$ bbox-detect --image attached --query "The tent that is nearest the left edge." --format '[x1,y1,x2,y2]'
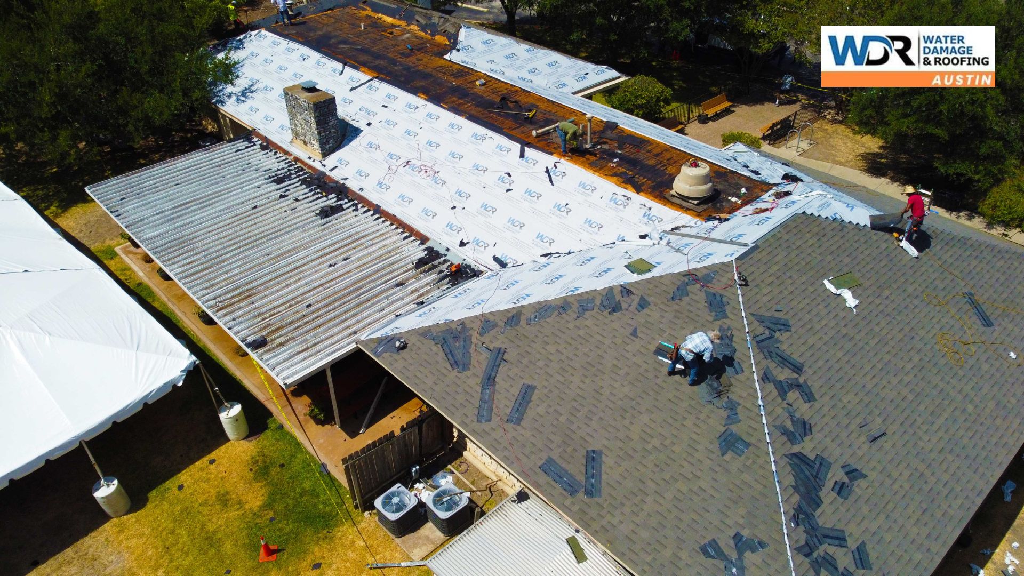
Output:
[0,188,222,487]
